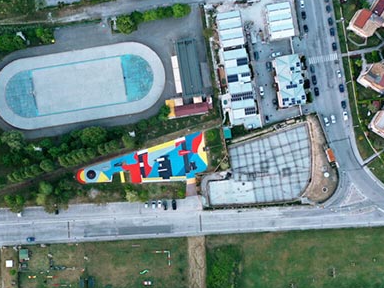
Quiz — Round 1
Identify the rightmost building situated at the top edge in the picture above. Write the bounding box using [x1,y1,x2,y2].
[345,0,384,39]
